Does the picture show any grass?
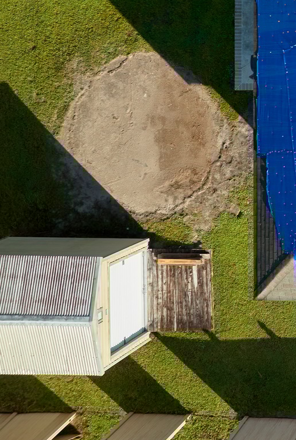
Yes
